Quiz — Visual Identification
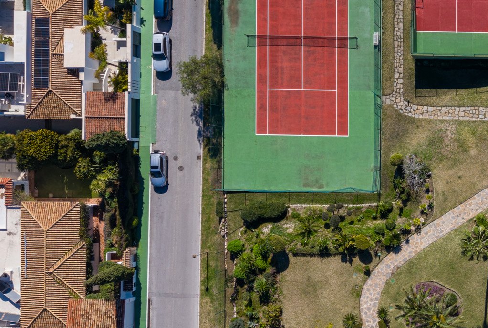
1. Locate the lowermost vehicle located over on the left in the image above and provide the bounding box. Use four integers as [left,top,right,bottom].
[149,152,170,186]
